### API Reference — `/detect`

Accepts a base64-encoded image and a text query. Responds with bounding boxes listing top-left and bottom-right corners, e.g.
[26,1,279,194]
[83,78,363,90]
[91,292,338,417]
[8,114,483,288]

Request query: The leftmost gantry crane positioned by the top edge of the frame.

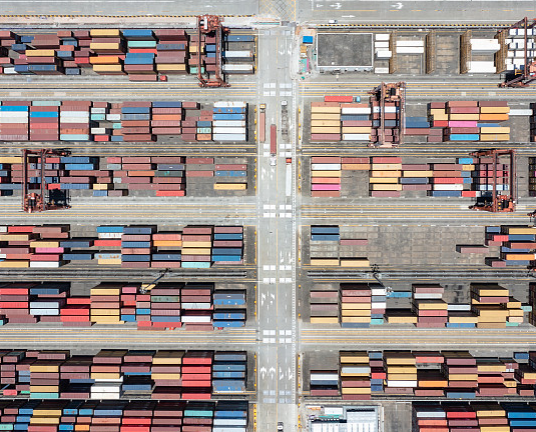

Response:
[195,13,230,86]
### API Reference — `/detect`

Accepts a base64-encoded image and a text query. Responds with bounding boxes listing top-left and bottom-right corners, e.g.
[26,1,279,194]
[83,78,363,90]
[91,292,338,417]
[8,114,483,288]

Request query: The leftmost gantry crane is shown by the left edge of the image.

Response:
[23,149,72,214]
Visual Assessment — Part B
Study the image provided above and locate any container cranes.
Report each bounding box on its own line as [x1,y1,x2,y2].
[468,149,517,215]
[366,80,406,147]
[195,13,230,86]
[495,12,536,86]
[23,149,72,214]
